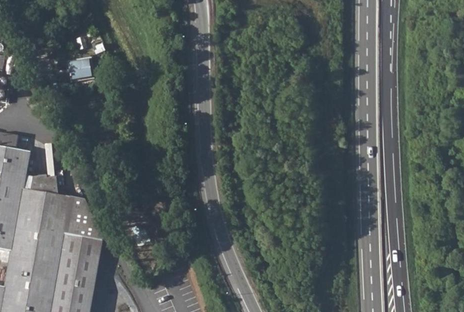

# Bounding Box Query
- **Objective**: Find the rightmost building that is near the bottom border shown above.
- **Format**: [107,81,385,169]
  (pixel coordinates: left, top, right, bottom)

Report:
[51,232,104,312]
